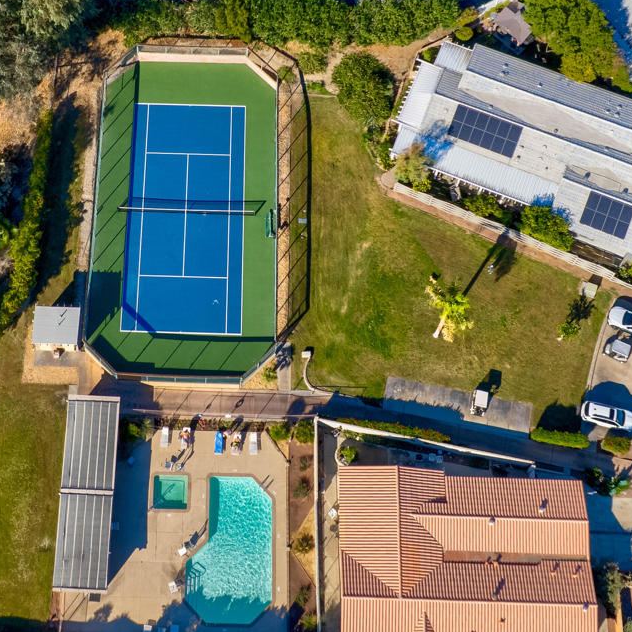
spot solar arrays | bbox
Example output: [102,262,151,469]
[447,102,525,158]
[578,190,632,240]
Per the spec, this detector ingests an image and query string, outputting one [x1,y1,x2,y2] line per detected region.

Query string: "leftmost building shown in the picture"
[32,305,79,351]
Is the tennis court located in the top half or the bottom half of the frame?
top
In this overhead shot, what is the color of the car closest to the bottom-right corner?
white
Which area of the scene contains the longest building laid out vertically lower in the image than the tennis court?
bottom left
